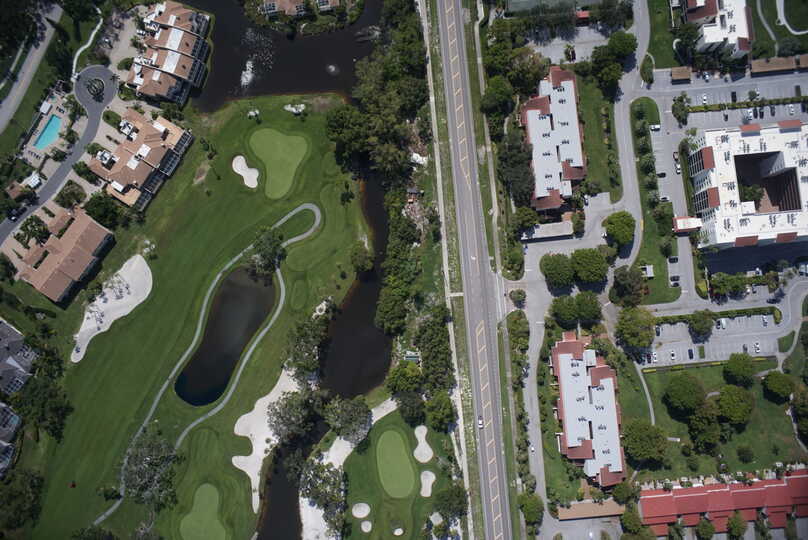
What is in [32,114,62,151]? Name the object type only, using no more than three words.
swimming pool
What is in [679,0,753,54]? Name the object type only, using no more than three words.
building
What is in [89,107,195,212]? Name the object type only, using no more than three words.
house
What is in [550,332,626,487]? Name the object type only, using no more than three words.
building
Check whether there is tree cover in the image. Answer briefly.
Yes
